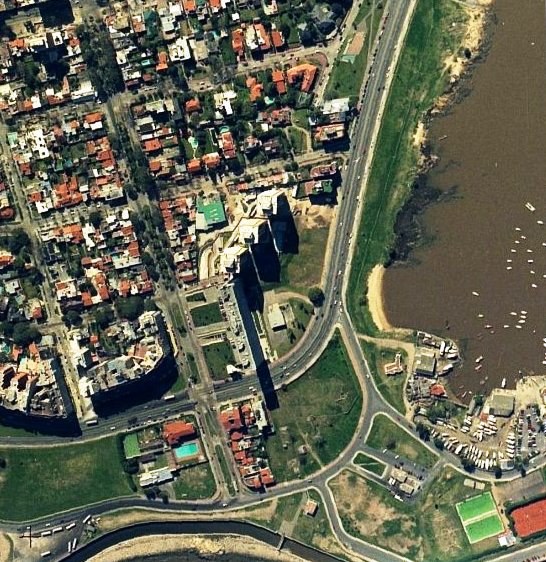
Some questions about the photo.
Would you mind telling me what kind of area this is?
residential area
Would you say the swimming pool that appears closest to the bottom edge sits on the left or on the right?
left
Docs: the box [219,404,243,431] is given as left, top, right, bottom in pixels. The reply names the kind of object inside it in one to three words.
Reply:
house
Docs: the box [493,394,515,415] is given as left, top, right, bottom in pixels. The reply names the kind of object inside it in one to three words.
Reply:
shed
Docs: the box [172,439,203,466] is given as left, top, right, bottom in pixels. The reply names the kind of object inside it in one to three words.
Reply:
swimming pool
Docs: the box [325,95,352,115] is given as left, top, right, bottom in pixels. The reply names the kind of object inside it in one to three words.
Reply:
building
